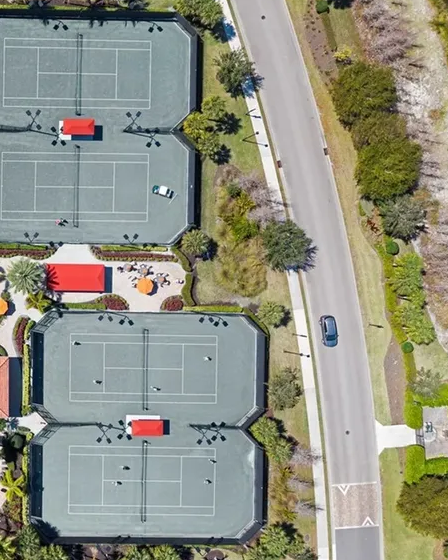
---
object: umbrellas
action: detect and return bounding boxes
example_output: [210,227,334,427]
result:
[0,298,8,314]
[137,277,154,294]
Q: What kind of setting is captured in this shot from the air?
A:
sports ground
